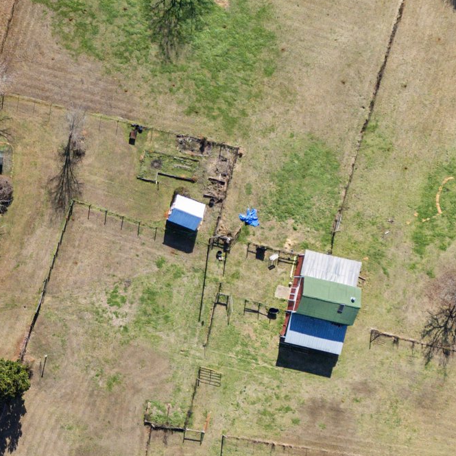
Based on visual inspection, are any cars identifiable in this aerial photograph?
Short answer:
No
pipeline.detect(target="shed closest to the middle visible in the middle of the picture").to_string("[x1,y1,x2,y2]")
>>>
[167,194,211,232]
